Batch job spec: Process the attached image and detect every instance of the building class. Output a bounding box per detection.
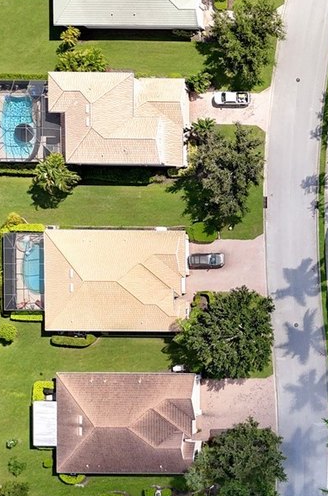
[43,230,192,331]
[56,372,201,474]
[48,71,190,165]
[53,0,210,33]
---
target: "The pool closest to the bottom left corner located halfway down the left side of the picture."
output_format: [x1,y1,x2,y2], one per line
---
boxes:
[21,239,44,297]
